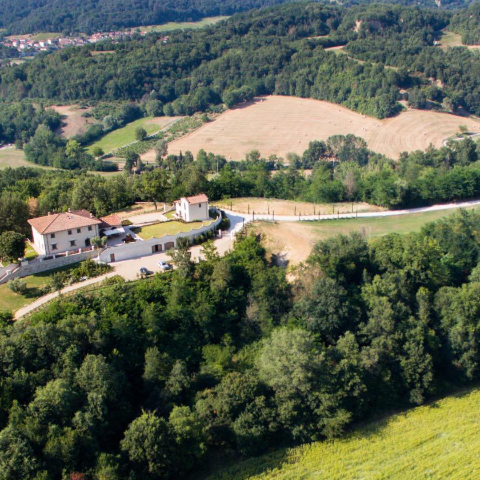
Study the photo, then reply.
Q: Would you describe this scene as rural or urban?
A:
rural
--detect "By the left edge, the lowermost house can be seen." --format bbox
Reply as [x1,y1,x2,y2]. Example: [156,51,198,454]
[24,205,103,255]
